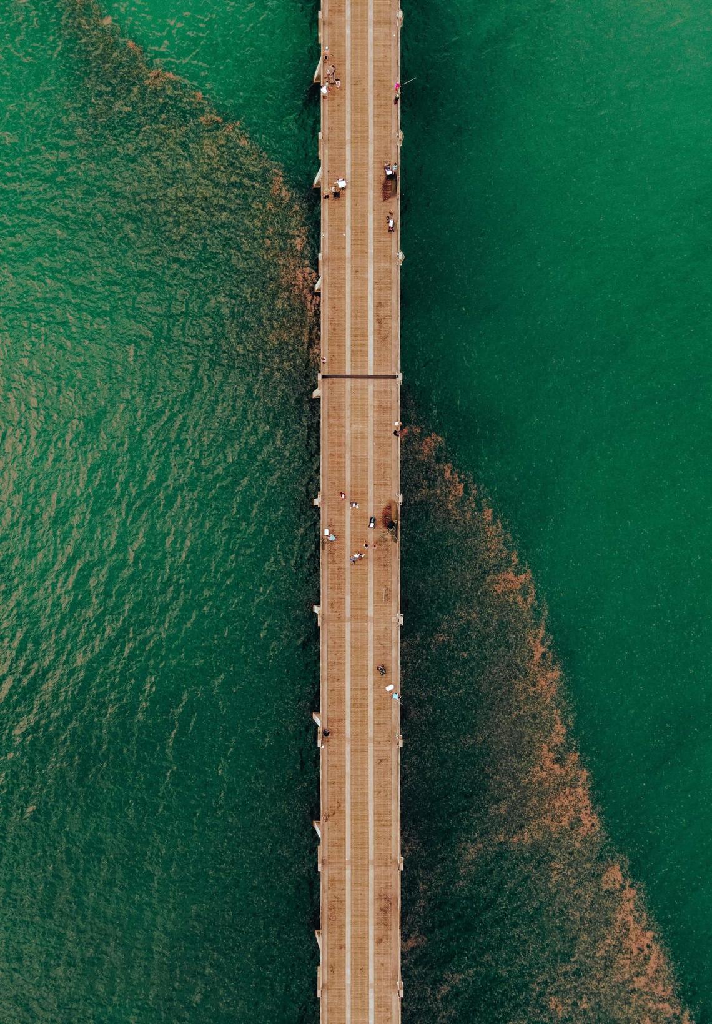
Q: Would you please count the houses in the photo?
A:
zero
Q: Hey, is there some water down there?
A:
Yes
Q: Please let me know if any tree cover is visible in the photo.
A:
No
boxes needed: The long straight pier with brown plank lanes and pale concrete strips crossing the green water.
[313,0,405,1024]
